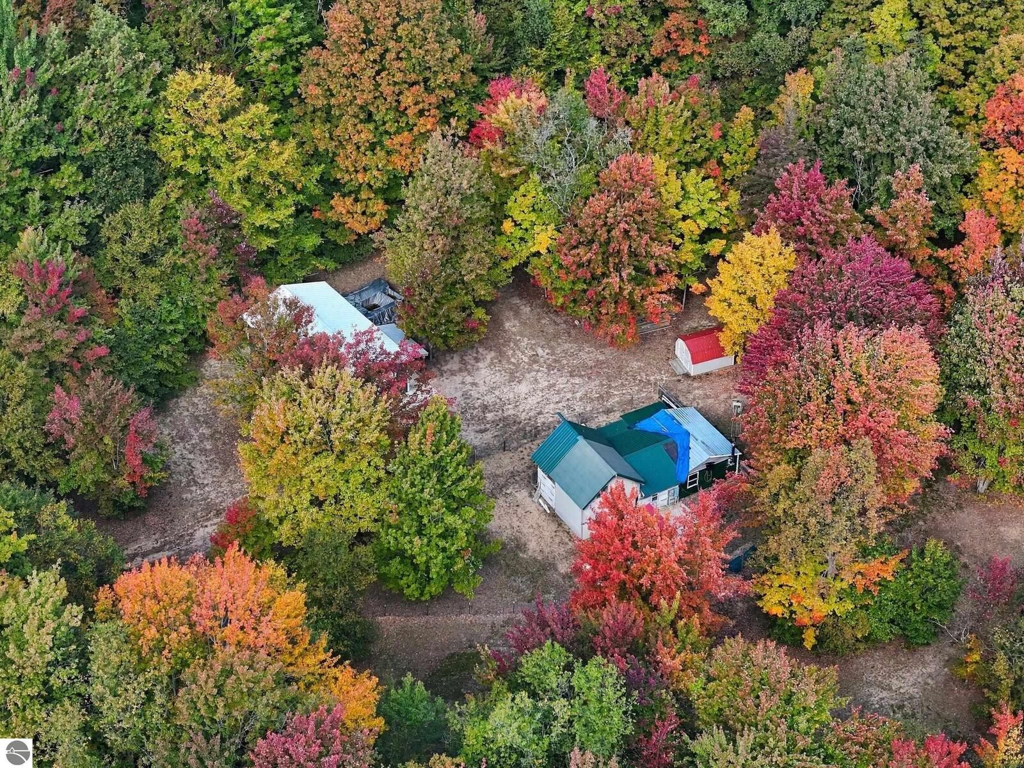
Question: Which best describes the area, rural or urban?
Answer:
rural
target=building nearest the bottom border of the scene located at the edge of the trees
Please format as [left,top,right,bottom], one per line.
[527,398,741,538]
